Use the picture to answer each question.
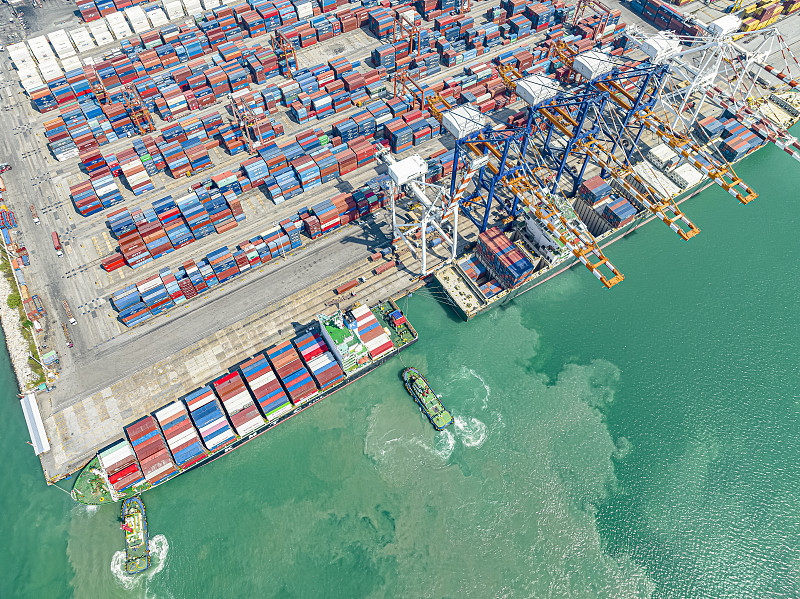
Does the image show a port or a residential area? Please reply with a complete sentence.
This image shows a port.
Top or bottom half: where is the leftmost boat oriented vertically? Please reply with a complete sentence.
The leftmost boat oriented vertically sits in the bottom half of the picture.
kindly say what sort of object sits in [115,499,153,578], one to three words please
boat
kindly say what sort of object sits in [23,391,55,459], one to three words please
shed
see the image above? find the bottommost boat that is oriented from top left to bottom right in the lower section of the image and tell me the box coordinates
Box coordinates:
[402,369,454,430]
